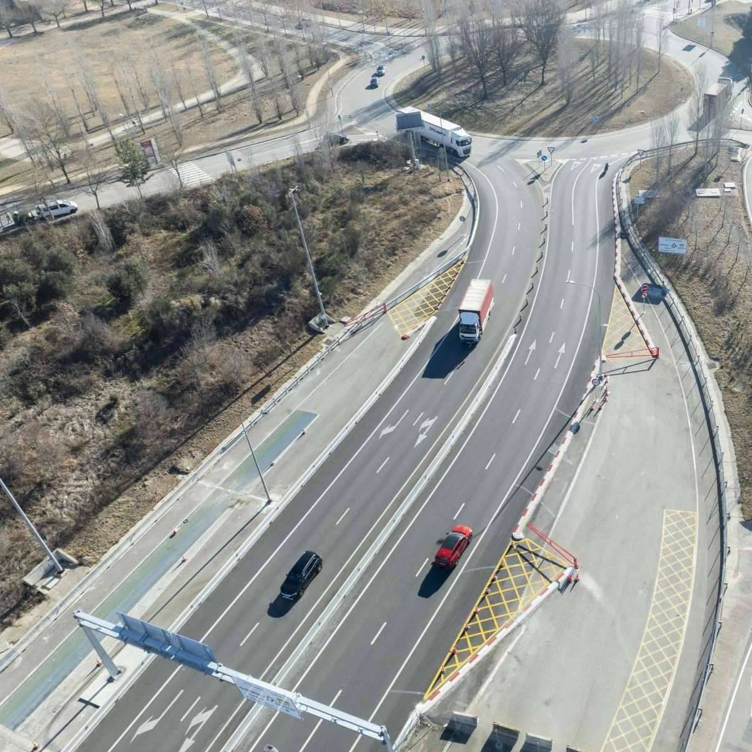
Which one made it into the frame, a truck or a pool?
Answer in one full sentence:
Visible in the photo is a truck.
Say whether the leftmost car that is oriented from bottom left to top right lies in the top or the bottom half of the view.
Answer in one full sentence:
It is in the bottom half that the leftmost car that is oriented from bottom left to top right appears.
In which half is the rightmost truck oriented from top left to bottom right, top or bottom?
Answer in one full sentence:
You can find the rightmost truck oriented from top left to bottom right in the top half.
